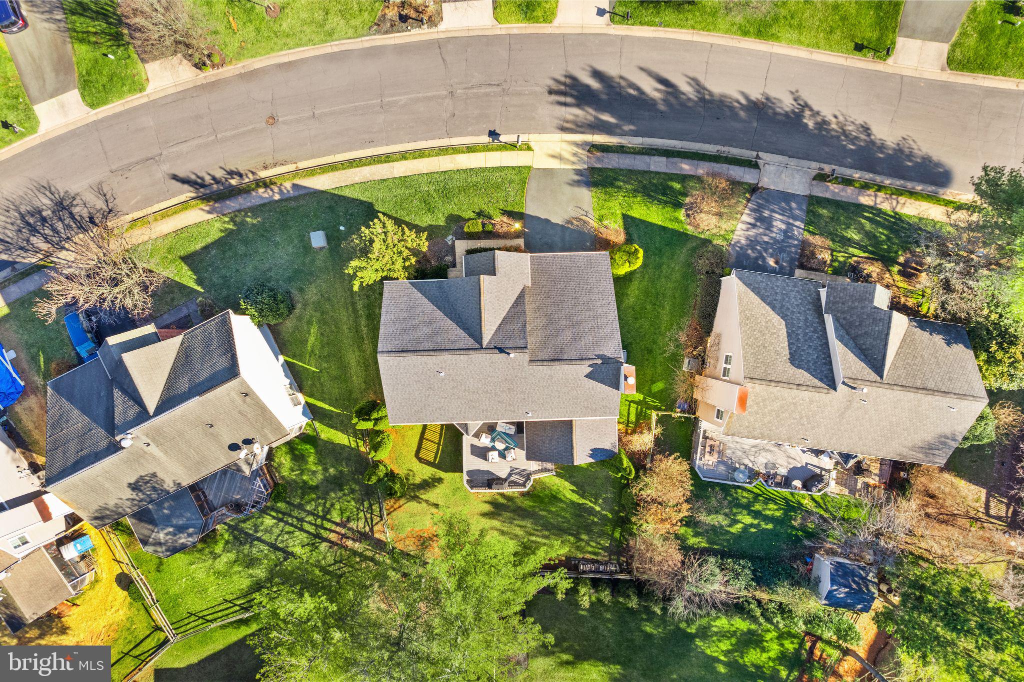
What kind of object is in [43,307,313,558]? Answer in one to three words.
house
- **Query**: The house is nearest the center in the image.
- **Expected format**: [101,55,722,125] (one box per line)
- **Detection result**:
[375,249,634,466]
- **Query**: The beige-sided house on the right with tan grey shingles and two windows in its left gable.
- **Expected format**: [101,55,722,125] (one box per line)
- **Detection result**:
[696,268,993,469]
